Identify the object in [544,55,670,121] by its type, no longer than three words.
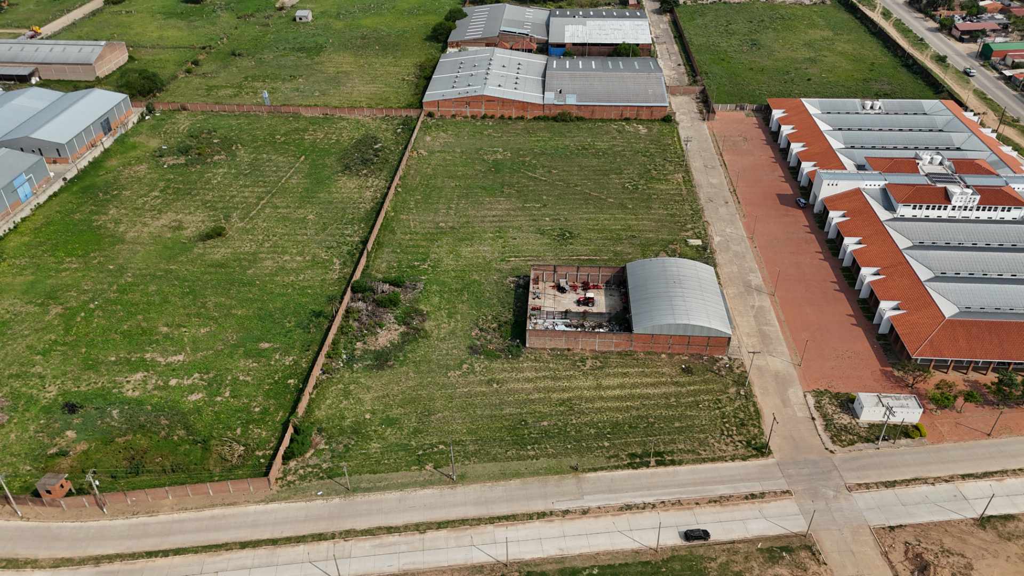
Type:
building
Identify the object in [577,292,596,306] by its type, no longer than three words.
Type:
work vehicle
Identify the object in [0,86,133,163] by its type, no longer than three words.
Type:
building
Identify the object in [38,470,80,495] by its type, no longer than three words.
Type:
shed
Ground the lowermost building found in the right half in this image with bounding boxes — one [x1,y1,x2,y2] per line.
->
[852,392,926,428]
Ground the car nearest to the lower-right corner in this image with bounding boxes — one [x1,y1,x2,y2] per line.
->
[682,528,711,543]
